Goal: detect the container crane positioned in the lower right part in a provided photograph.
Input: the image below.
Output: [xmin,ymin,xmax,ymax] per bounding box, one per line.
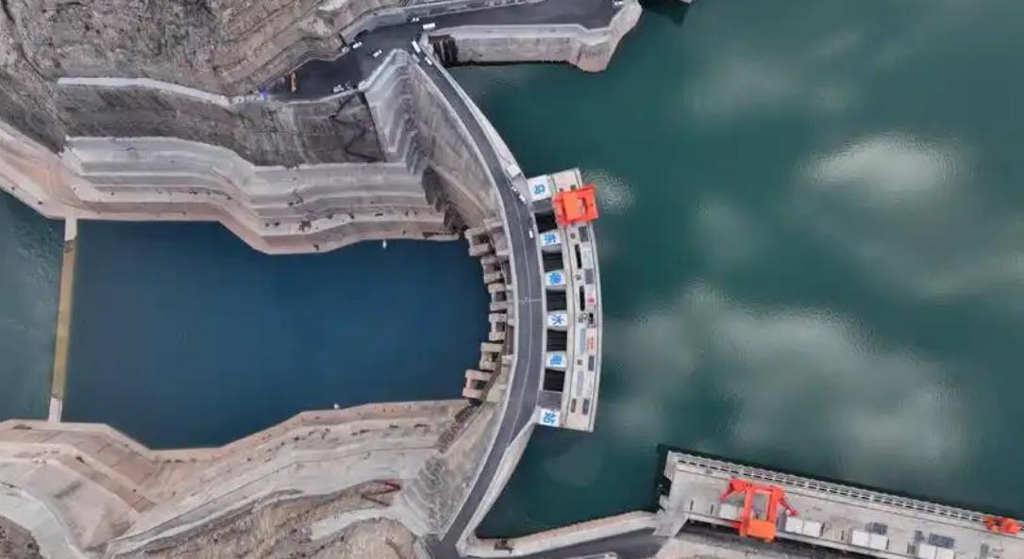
[724,481,791,549]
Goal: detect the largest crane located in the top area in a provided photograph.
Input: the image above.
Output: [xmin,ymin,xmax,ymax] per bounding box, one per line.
[552,181,602,224]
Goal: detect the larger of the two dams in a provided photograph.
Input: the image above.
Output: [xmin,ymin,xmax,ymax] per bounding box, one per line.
[406,54,603,545]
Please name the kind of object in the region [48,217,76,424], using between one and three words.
dam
